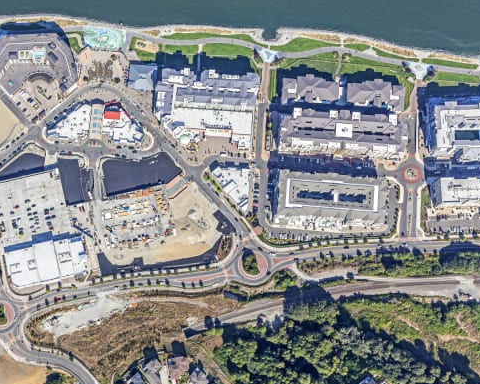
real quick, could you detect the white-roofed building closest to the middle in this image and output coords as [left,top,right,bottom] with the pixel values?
[212,166,250,210]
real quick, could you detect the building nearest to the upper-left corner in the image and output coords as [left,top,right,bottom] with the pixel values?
[0,33,79,96]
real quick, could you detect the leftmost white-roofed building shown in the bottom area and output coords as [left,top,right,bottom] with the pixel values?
[6,236,88,287]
